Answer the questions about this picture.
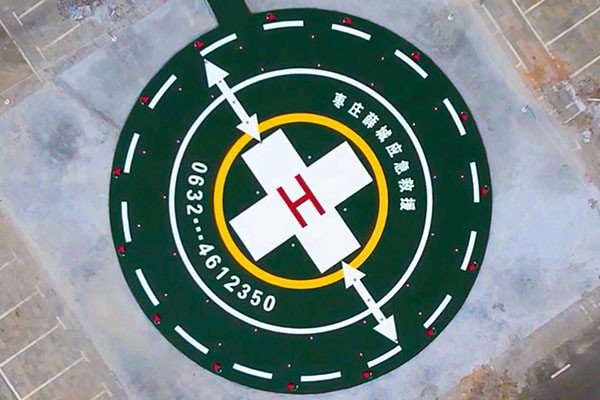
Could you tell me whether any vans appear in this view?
No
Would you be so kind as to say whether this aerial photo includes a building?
No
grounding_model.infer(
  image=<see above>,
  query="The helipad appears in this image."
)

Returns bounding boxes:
[108,0,493,395]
